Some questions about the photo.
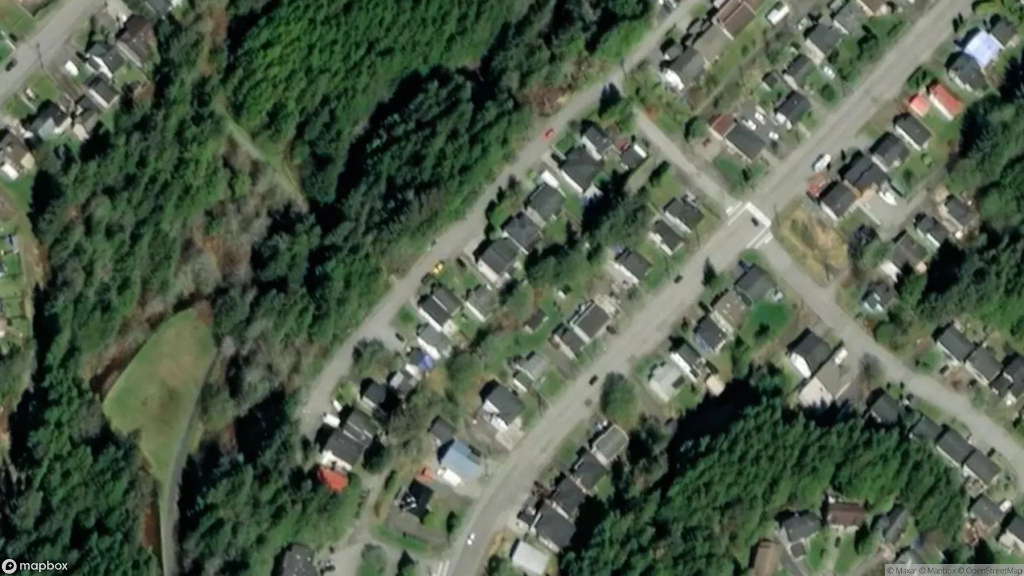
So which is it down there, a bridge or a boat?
boat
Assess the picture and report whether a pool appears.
No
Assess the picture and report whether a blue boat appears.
No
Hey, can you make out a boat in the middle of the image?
No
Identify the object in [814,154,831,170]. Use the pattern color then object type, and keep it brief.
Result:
white camper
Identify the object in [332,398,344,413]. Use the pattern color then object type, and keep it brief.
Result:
white vehicle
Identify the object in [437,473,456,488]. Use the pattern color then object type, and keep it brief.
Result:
white vehicle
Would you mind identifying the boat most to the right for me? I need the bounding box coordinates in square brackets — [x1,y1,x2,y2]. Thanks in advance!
[879,189,898,206]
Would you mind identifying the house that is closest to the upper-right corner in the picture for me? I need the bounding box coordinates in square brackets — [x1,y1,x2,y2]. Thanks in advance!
[990,20,1019,52]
